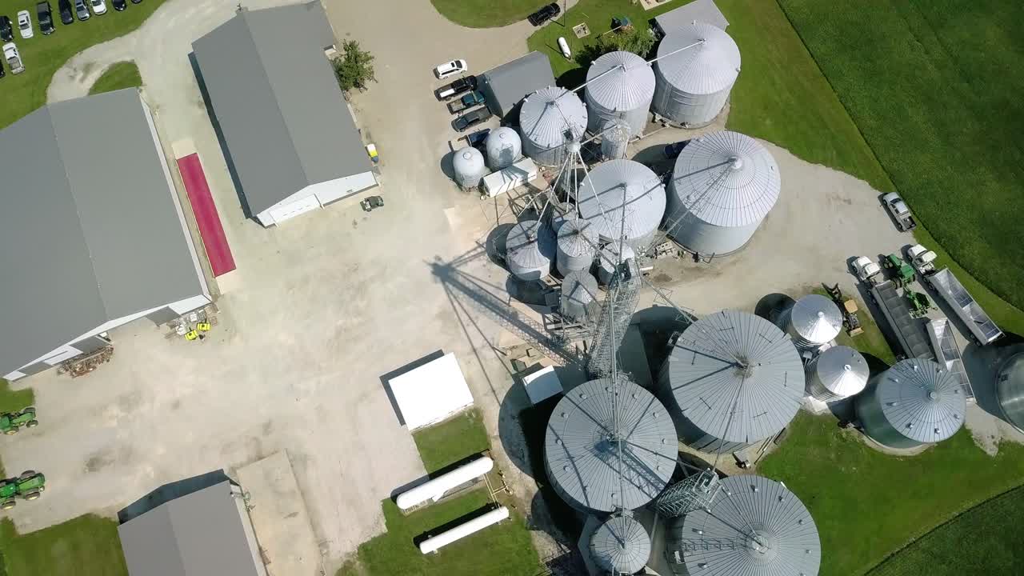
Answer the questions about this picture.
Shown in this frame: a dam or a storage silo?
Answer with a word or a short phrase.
storage silo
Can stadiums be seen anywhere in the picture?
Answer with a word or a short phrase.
No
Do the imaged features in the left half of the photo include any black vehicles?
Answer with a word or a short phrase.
Yes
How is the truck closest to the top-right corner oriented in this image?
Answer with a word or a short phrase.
diagonally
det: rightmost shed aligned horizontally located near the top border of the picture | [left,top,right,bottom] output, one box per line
[656,0,727,40]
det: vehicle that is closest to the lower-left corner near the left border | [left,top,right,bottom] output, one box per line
[0,469,48,508]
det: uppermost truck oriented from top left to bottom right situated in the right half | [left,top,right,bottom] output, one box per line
[879,190,921,236]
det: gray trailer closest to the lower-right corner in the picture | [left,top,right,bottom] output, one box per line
[922,317,981,414]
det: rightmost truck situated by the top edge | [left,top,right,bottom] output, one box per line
[523,1,563,27]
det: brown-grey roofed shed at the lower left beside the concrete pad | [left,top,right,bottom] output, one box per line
[117,480,266,576]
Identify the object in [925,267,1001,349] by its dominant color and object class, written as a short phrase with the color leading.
gray trailer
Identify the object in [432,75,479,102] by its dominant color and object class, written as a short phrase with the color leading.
black truck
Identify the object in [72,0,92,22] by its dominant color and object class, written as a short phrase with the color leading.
gray car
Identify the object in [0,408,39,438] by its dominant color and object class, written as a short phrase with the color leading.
green work vehicle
